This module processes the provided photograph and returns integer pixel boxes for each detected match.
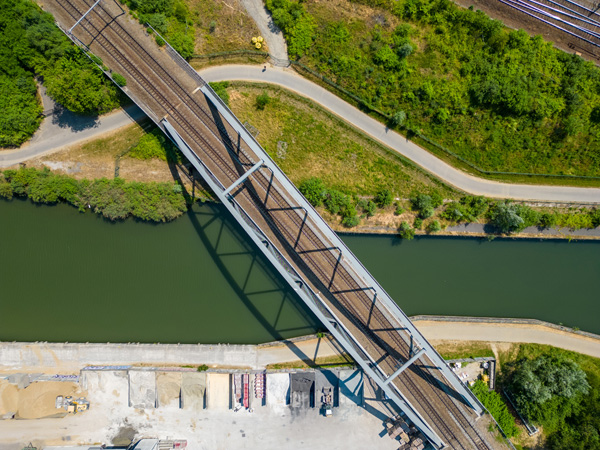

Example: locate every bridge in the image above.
[125,45,488,450]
